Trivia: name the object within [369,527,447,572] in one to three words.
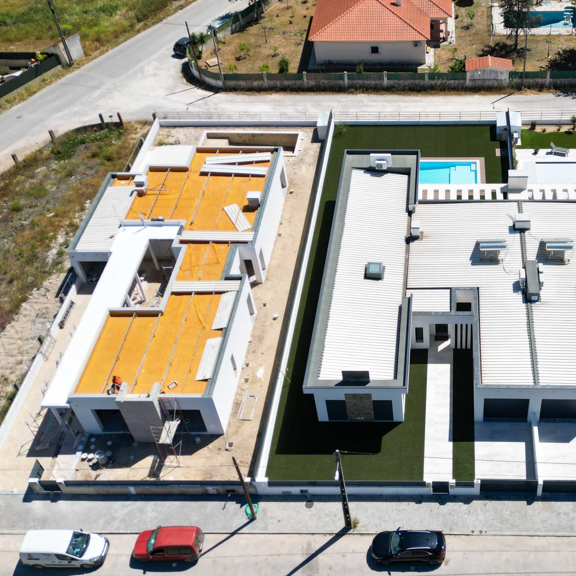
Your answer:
car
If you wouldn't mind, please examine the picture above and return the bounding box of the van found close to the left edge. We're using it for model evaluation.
[12,523,111,568]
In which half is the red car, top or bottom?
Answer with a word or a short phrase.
bottom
